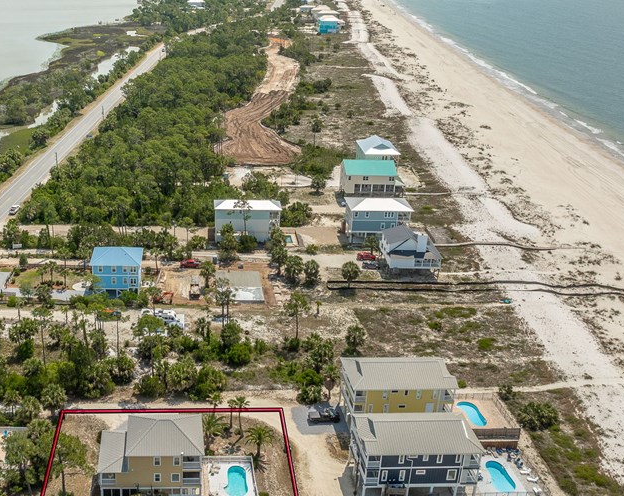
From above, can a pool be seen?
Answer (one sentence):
Yes, the image includes a pool.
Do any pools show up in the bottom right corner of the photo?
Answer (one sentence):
Yes, in the bottom right corner of the photo there is a pool.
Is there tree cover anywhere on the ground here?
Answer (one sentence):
Yes, some tree cover is visible.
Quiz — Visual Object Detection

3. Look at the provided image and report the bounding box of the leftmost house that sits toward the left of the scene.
[89,246,142,296]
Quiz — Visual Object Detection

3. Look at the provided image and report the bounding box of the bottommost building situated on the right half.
[346,409,489,496]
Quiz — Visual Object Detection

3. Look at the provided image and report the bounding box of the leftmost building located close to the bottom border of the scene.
[97,413,206,496]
